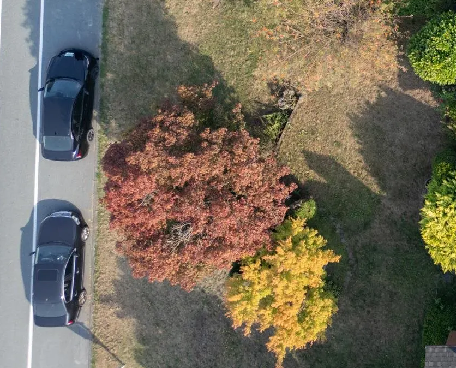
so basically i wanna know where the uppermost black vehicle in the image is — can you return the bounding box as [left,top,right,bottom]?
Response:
[39,47,100,161]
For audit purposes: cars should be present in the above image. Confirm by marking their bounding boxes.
[39,47,100,161]
[28,210,89,330]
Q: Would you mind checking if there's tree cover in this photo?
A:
Yes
